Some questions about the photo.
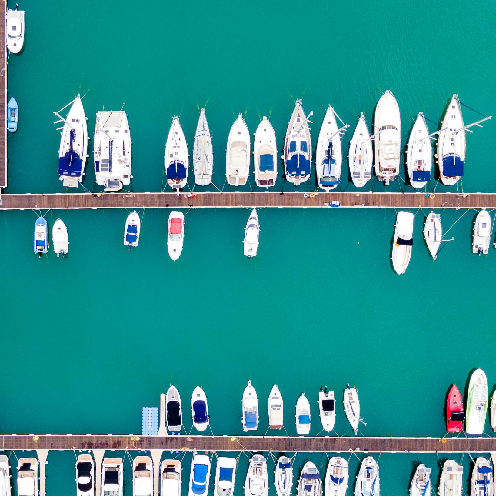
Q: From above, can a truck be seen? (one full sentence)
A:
No, the picture doesn't show any truck.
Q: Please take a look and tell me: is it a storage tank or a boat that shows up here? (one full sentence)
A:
This aerial view contains a boat.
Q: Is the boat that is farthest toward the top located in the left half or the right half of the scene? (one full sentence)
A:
The boat that is farthest toward the top sits on the left side.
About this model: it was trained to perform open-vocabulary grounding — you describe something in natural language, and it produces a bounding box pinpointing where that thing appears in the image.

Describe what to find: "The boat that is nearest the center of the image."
[241,207,262,259]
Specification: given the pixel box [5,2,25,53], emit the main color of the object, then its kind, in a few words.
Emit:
white boat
